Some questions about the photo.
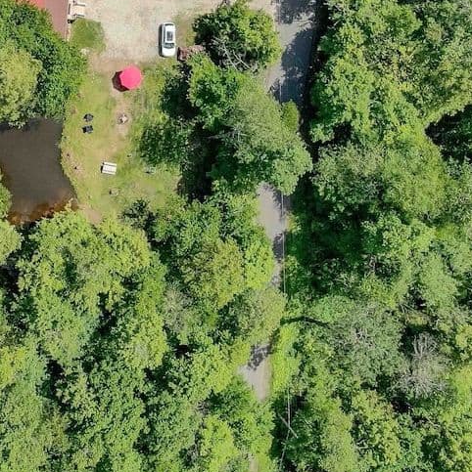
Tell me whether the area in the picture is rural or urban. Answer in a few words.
rural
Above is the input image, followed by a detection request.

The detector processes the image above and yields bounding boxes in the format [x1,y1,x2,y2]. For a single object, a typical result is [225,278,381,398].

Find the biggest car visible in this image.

[160,22,178,57]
